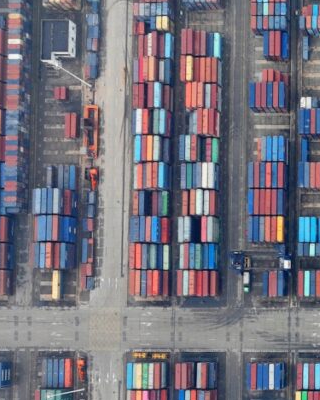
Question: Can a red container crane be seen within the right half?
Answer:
No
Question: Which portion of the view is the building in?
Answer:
top left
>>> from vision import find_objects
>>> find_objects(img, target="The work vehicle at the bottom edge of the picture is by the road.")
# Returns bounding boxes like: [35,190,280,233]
[73,360,88,386]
